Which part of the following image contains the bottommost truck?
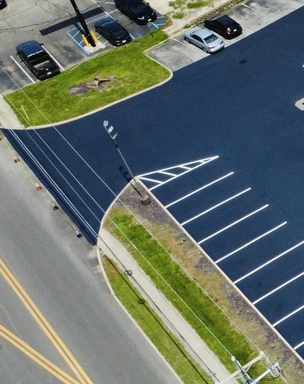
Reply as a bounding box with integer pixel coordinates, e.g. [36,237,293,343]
[16,45,61,80]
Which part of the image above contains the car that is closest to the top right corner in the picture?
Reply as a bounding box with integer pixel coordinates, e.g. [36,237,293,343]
[204,17,244,41]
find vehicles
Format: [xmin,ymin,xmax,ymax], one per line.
[204,17,244,41]
[184,29,227,56]
[16,45,61,80]
[115,0,156,24]
[93,17,132,47]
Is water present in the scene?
No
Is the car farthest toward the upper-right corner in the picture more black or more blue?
black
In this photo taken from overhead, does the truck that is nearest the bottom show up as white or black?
black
